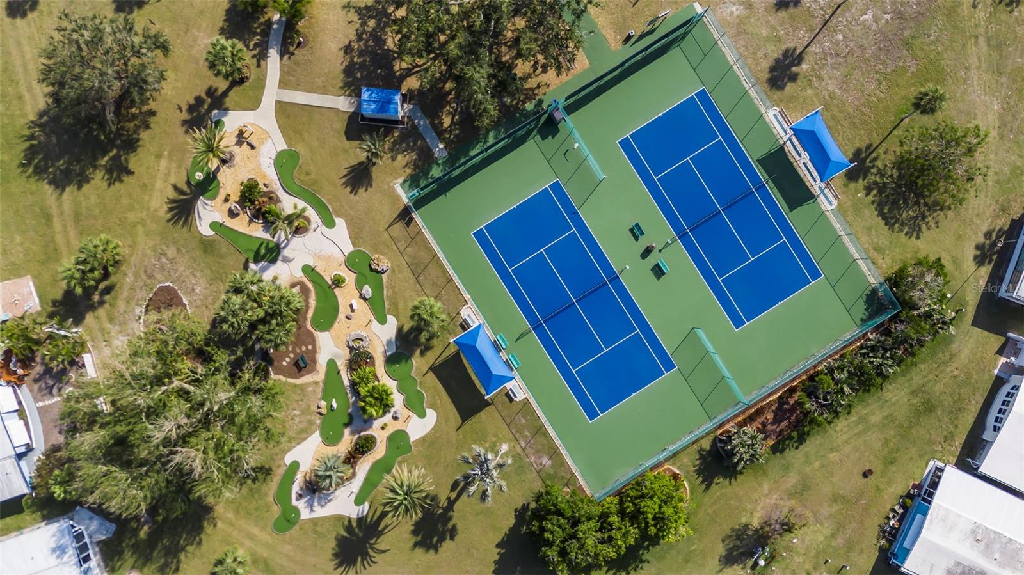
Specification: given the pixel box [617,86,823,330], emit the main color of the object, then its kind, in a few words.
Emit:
blue tennis court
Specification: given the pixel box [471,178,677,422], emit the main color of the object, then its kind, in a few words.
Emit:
blue tennis court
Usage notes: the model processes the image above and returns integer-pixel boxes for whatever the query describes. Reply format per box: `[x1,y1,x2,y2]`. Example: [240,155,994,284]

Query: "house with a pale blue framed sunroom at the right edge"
[990,221,1024,305]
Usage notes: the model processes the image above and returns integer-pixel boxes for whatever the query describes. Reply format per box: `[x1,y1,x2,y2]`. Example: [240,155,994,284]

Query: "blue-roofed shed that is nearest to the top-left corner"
[360,87,421,126]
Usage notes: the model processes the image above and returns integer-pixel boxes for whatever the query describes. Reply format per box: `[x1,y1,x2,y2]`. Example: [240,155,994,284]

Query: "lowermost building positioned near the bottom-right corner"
[891,456,1024,575]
